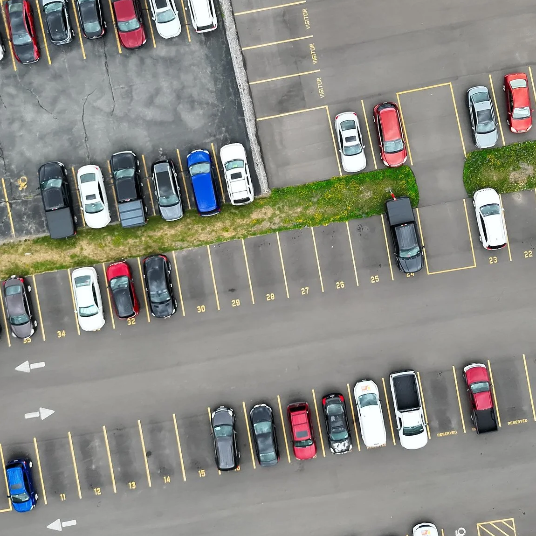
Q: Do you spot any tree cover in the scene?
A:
No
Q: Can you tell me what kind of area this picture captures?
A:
parking lot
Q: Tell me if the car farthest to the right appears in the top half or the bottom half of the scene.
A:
top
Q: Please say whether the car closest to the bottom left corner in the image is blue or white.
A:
blue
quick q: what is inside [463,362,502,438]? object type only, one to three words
truck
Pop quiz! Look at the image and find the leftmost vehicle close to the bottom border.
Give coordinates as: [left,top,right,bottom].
[3,456,35,512]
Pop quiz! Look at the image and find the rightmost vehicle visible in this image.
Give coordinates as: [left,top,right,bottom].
[502,72,535,134]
